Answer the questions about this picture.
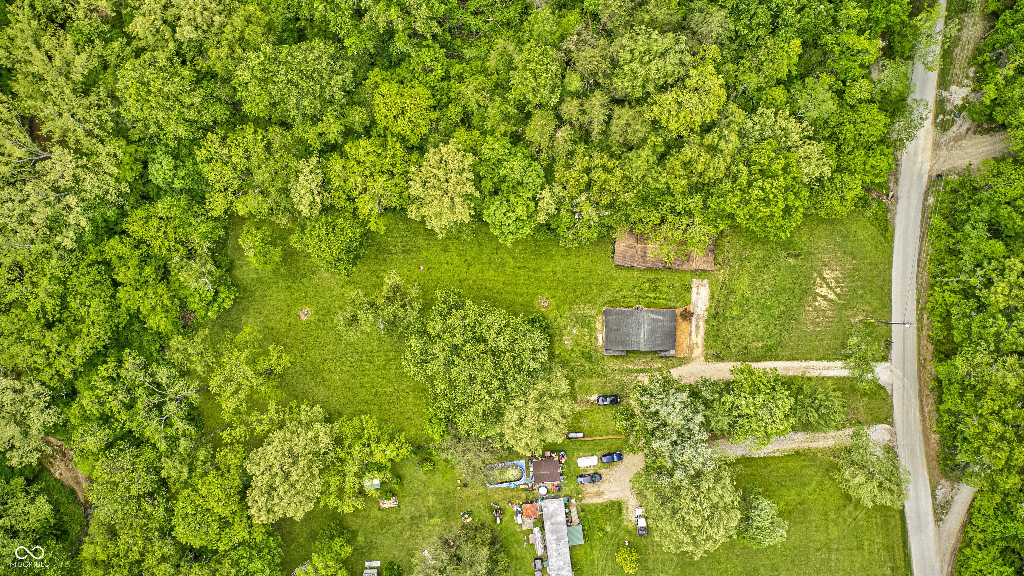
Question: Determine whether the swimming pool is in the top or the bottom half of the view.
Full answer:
It is in the bottom half that the swimming pool appears.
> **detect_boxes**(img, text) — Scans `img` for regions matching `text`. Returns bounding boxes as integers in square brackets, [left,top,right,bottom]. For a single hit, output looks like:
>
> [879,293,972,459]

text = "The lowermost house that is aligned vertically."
[542,495,572,576]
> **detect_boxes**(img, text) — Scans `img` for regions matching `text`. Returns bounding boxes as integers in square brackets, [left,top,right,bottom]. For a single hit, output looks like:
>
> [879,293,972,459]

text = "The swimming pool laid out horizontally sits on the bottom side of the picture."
[484,466,526,486]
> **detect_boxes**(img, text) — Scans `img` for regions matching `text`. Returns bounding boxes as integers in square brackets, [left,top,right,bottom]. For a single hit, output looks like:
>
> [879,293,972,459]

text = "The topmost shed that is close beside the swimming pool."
[533,458,561,484]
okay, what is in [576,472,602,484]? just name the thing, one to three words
vehicle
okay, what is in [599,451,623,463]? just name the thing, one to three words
vehicle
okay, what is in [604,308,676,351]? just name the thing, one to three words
house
